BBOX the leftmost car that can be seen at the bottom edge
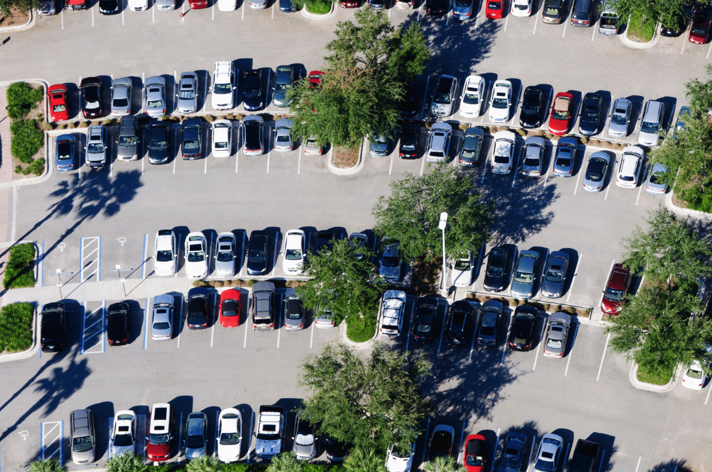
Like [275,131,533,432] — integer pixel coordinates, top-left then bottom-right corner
[67,407,98,468]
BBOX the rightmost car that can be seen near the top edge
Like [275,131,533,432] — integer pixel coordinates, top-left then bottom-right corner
[688,8,712,49]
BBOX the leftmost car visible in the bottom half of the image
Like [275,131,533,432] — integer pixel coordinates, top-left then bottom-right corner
[39,305,67,356]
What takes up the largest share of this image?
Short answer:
paved ground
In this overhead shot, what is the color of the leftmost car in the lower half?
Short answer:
black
